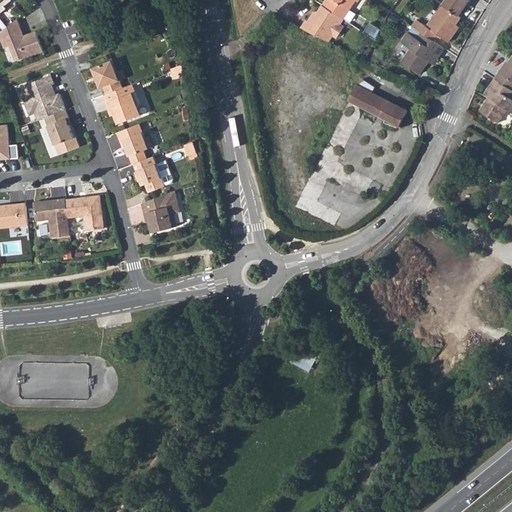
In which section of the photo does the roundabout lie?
center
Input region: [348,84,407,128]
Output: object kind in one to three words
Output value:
building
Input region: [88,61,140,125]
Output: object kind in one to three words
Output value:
house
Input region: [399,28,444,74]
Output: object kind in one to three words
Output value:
house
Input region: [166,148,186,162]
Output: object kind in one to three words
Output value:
swimming pool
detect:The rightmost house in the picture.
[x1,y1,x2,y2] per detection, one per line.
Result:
[478,54,512,128]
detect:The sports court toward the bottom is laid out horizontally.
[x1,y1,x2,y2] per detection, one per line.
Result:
[0,354,118,408]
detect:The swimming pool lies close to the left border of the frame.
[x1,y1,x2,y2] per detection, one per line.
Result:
[0,240,22,256]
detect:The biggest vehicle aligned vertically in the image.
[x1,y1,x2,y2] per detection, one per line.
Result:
[228,116,240,146]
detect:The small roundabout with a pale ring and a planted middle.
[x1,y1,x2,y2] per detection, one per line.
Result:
[228,246,284,303]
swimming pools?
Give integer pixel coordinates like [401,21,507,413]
[0,240,22,256]
[166,148,186,162]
